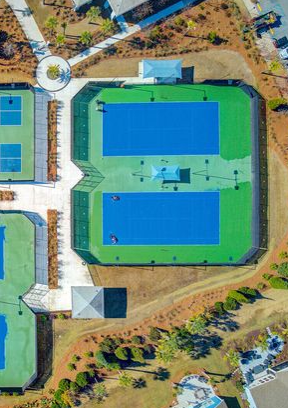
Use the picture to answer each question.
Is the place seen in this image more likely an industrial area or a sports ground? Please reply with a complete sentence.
What you see here is a sports ground.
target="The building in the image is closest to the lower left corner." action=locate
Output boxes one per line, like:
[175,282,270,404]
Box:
[68,284,104,319]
